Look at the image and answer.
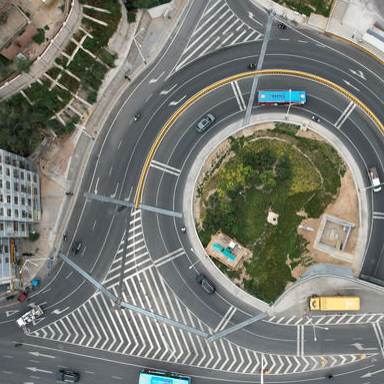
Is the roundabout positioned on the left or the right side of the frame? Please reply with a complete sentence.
The roundabout sits on the right side.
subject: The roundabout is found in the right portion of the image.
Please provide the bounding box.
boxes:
[138,17,384,312]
